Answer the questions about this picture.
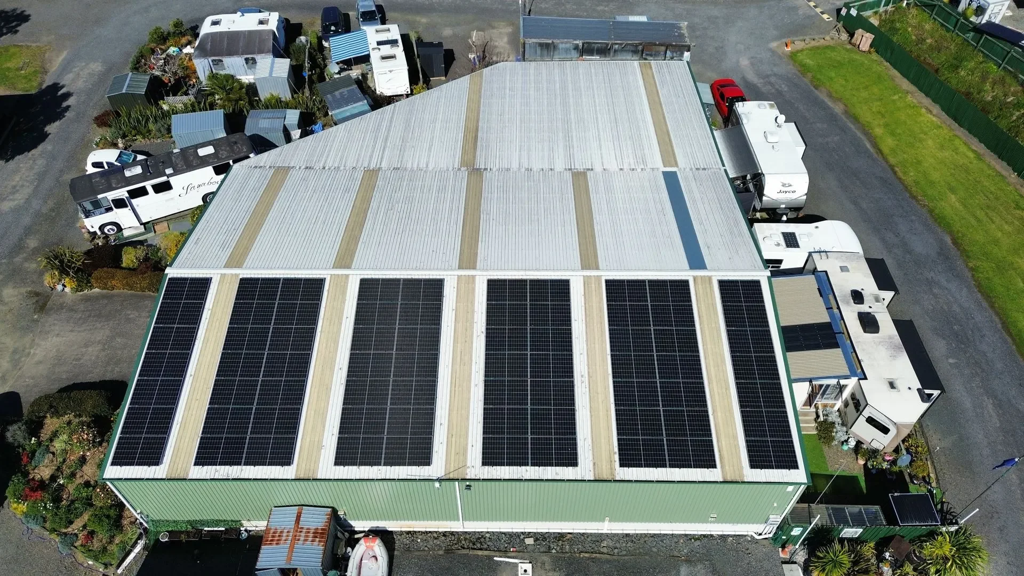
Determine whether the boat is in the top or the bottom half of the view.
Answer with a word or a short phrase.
bottom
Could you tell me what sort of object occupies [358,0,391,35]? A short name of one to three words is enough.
car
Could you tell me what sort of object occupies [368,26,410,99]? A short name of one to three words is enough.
camper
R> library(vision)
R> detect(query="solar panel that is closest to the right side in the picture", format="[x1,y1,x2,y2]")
[883,492,939,526]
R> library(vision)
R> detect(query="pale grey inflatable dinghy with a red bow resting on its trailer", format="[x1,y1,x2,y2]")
[348,534,387,576]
